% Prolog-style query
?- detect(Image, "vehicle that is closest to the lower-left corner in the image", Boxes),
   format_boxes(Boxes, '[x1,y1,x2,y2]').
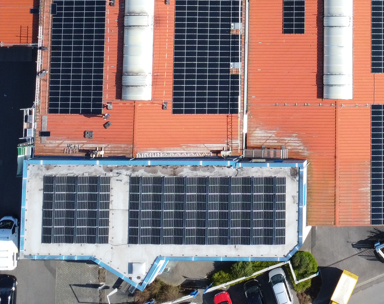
[0,274,15,304]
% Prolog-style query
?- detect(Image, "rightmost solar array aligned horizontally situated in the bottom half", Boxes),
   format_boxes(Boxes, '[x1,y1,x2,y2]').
[128,175,285,244]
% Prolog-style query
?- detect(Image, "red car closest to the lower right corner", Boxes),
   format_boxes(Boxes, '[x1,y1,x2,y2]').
[216,289,233,304]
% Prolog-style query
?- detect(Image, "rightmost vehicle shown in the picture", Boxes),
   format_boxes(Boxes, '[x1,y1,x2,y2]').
[331,269,361,304]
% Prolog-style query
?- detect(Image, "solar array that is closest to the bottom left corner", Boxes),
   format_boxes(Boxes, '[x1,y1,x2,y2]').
[42,175,112,244]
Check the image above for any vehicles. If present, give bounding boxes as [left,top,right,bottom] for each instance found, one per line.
[0,215,20,274]
[216,289,233,304]
[0,274,15,304]
[271,266,294,304]
[247,278,267,304]
[331,269,361,304]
